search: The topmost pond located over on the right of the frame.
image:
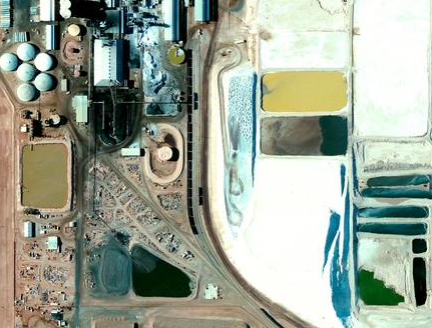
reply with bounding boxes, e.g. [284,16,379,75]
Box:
[262,70,347,111]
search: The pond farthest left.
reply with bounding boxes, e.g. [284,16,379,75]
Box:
[24,144,67,208]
